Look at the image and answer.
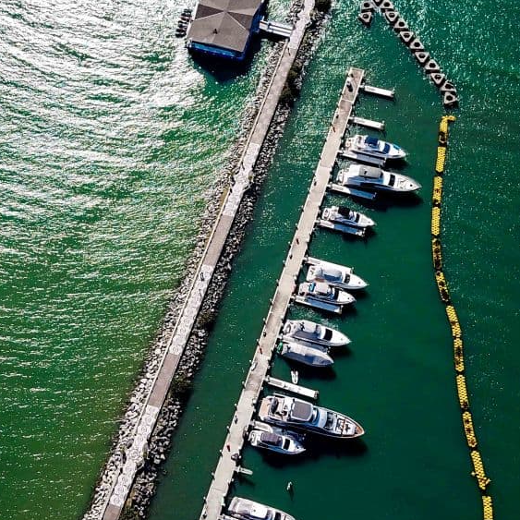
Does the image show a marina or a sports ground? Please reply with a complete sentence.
The area seen from above is a marina.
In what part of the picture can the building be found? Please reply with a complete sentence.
The building is in the top part of the image.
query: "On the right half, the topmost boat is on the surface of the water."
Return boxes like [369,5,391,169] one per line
[344,134,407,160]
